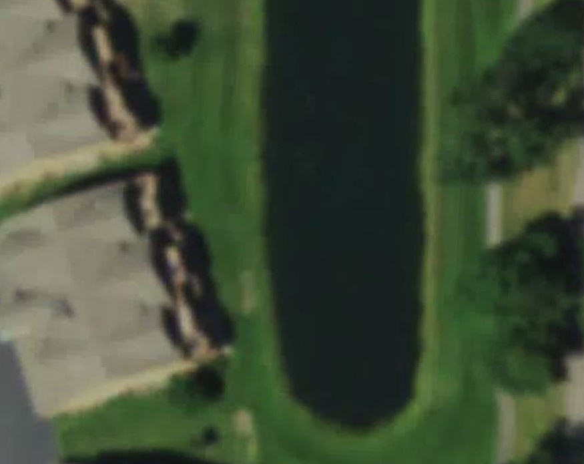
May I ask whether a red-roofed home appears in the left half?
No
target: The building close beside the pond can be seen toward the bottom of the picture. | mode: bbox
[0,169,209,420]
